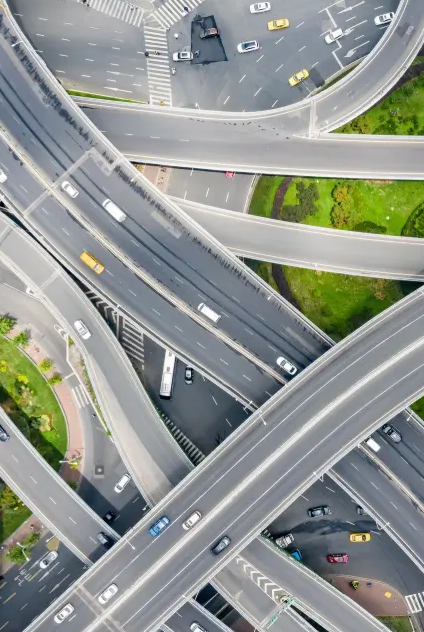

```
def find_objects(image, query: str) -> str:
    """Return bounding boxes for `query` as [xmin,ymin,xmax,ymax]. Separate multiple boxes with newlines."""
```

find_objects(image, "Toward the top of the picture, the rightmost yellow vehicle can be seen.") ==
[287,68,309,86]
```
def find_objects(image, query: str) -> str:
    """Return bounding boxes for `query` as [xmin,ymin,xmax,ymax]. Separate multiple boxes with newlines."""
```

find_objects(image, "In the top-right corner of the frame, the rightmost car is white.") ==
[373,11,395,26]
